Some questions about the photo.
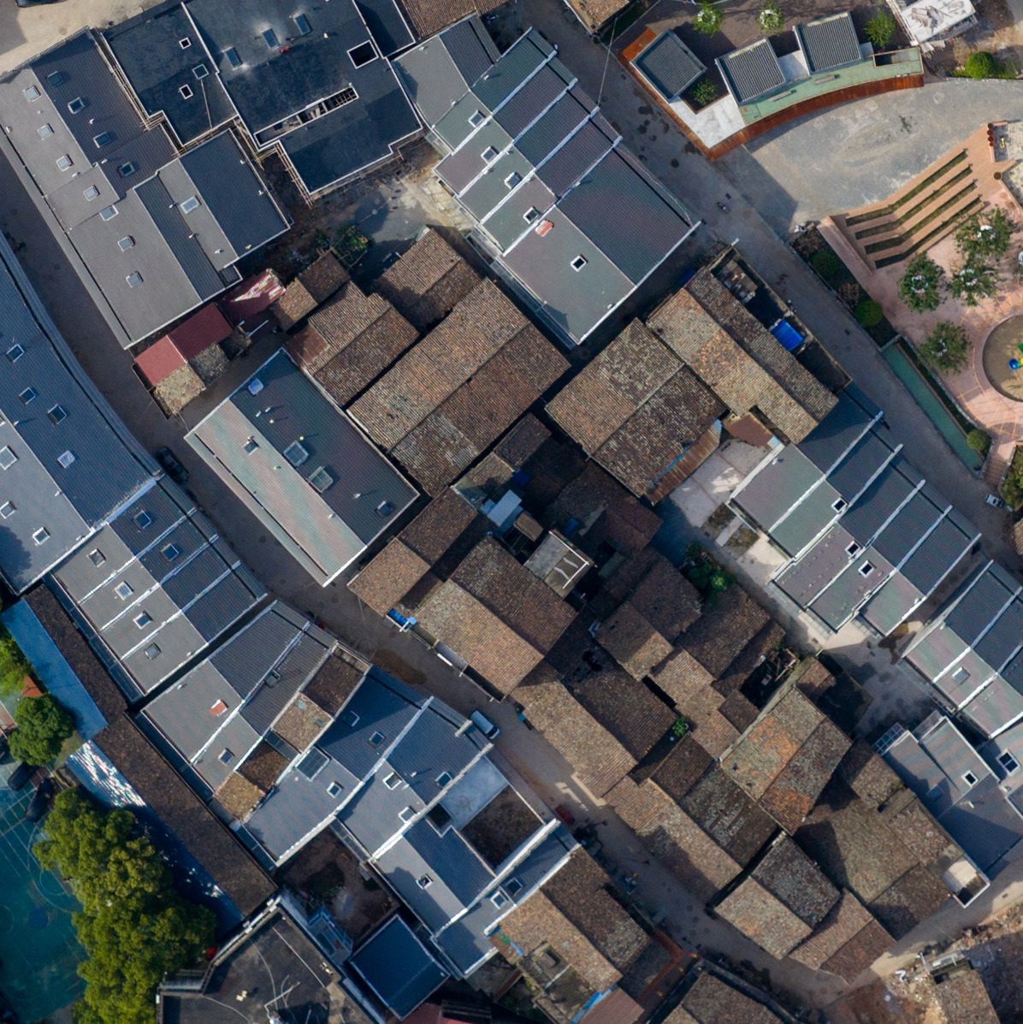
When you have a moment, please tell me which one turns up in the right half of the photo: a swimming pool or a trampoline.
swimming pool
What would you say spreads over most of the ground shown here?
buildings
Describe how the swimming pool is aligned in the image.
at an angle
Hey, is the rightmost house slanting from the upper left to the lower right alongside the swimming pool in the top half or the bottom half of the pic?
top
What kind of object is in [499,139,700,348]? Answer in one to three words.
house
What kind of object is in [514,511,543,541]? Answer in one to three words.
shed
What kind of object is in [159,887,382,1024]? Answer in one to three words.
building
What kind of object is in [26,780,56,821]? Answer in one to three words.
car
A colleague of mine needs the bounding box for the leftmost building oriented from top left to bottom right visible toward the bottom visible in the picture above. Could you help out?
[1,585,129,742]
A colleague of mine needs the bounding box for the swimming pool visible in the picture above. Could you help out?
[883,345,981,474]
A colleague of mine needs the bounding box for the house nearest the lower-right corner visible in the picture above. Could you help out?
[928,964,1000,1024]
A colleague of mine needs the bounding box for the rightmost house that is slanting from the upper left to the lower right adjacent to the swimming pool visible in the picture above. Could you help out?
[646,268,834,441]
